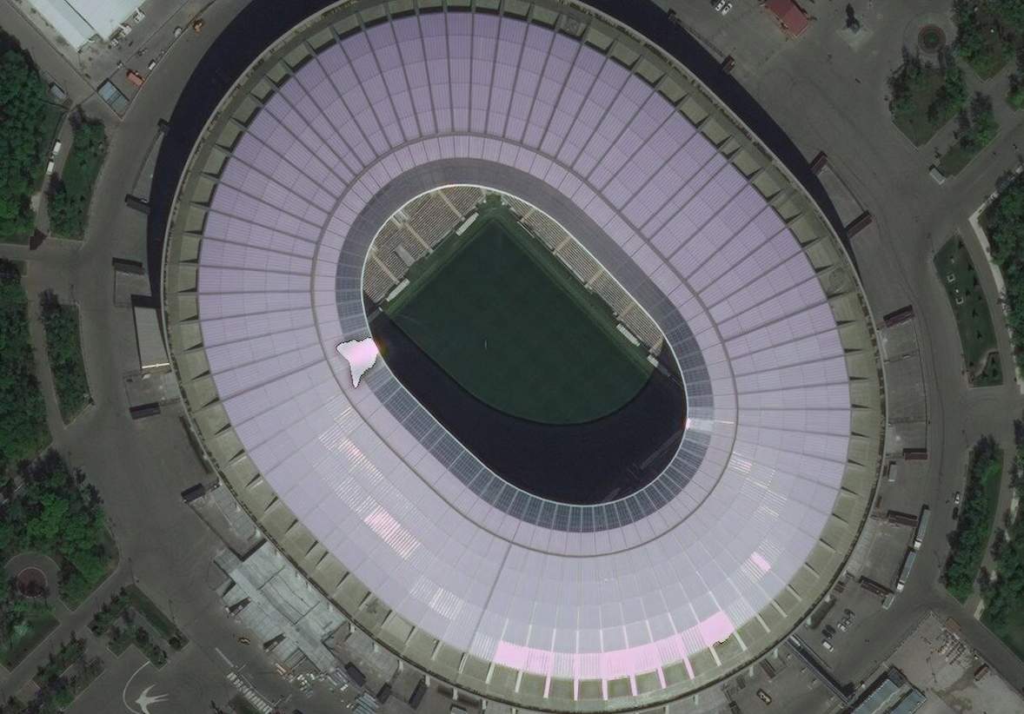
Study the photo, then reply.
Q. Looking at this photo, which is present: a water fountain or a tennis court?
water fountain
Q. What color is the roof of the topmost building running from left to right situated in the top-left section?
white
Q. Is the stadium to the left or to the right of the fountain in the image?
on the left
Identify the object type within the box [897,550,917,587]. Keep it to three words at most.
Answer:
vehicle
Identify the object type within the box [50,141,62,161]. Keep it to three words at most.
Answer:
vehicle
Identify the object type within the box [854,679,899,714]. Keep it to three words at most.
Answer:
building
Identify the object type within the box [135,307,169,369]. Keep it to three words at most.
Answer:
shed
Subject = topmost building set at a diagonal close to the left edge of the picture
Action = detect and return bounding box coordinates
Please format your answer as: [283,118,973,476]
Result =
[25,0,96,50]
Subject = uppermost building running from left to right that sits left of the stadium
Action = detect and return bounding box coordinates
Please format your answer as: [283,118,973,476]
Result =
[65,0,150,42]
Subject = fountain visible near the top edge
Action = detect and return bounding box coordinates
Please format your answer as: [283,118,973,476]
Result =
[918,25,946,53]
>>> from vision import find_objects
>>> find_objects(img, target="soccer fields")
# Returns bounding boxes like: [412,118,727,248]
[369,188,686,505]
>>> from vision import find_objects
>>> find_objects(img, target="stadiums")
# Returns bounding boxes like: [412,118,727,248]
[161,0,889,714]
